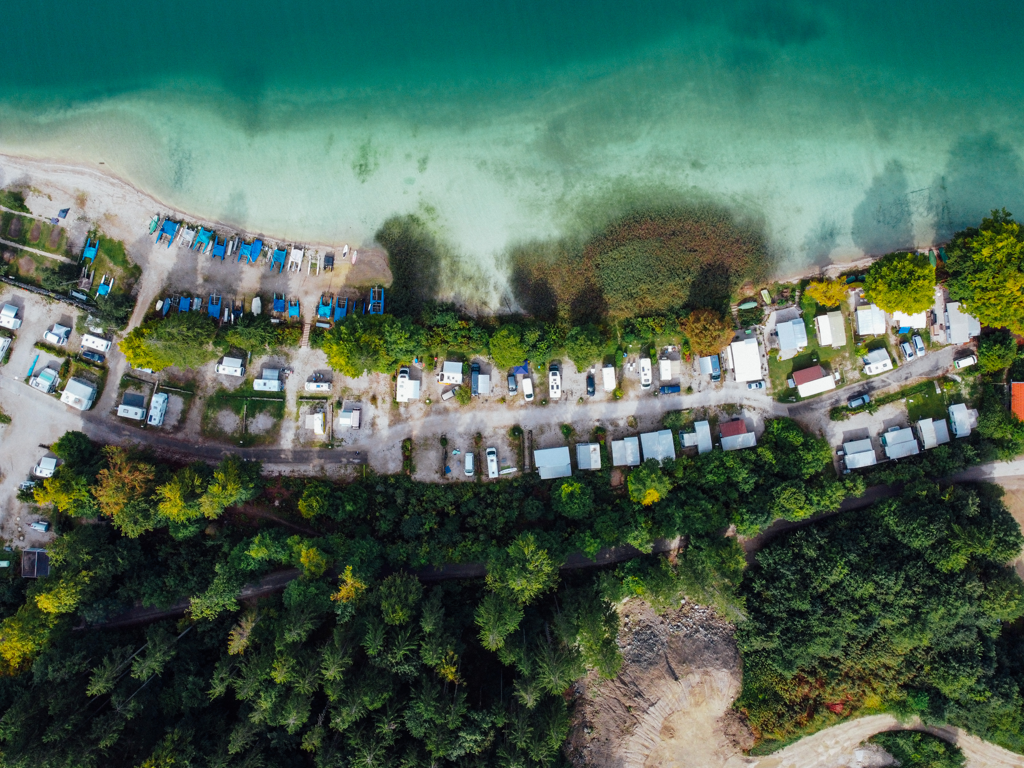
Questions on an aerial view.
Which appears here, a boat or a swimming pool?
boat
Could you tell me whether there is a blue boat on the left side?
Yes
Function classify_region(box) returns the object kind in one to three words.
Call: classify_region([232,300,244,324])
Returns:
boat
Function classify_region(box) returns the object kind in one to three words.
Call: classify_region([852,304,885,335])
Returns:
house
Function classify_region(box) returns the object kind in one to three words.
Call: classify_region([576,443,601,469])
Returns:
camper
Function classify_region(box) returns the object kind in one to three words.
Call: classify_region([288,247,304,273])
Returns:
boat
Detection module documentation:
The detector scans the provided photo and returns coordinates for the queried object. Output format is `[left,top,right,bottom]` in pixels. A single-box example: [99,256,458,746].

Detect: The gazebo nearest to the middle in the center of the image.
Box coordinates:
[514,360,528,374]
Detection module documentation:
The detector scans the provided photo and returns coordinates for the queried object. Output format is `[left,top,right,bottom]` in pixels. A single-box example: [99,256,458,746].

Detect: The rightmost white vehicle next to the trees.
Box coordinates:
[954,355,977,369]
